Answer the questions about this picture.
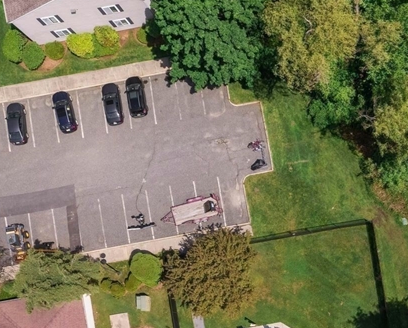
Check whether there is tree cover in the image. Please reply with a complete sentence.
Yes, tree cover can be seen from above here.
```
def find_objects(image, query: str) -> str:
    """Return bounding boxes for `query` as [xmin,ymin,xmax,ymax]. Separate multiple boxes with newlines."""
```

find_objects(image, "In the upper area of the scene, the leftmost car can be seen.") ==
[5,102,32,146]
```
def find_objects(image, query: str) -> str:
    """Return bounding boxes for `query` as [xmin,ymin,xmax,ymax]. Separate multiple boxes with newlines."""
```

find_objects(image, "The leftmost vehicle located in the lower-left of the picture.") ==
[6,226,33,262]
